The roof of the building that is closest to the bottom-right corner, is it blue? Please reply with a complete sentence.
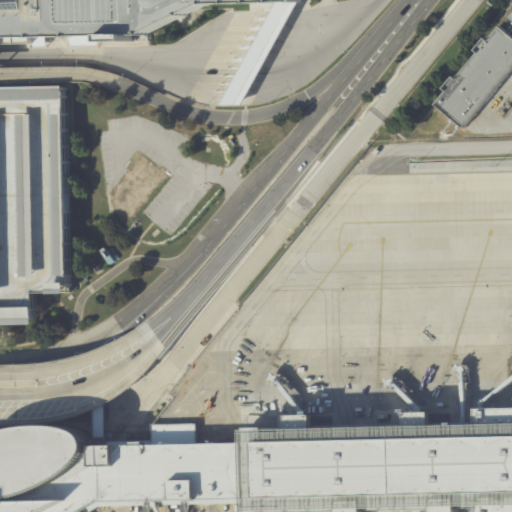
No, the color of the roof of the building that is closest to the bottom-right corner is white.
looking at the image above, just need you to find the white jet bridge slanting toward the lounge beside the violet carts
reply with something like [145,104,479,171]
[380,378,420,412]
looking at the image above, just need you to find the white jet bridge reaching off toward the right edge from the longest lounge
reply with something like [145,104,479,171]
[476,370,512,408]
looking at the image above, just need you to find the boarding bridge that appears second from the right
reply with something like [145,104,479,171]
[450,362,467,424]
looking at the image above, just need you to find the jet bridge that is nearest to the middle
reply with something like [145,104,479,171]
[266,374,303,414]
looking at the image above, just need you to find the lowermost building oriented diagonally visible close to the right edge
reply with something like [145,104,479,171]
[434,28,512,126]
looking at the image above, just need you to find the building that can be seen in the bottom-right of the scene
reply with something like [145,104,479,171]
[235,408,512,512]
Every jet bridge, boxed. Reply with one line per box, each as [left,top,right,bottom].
[380,378,420,412]
[266,374,303,414]
[476,370,512,408]
[450,362,467,424]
